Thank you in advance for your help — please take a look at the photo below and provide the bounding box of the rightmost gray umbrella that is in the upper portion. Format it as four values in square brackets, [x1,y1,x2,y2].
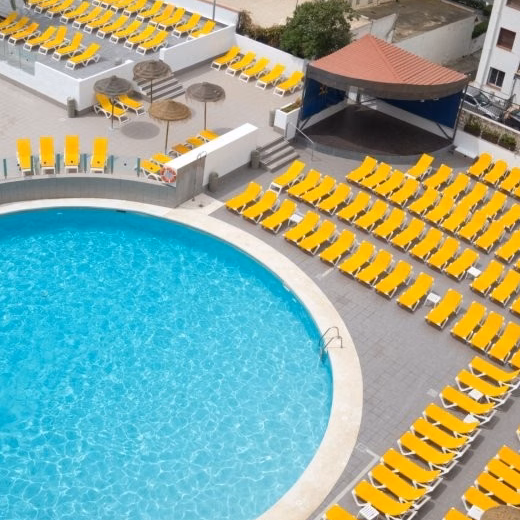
[187,81,229,130]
